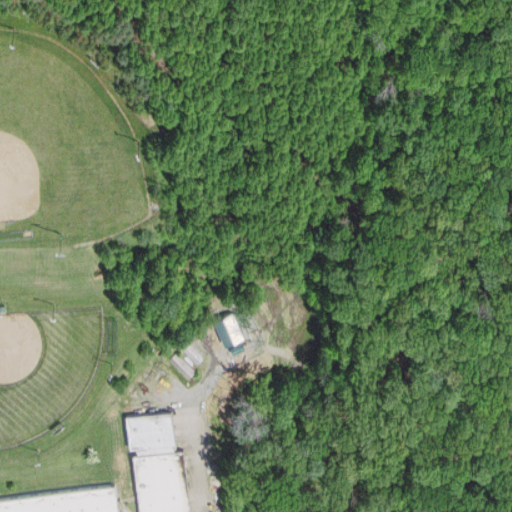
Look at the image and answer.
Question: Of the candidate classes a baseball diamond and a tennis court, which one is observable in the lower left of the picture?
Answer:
baseball diamond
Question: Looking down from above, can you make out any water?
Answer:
No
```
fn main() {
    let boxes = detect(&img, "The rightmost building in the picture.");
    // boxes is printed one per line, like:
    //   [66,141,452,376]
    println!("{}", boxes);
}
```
[216,312,244,355]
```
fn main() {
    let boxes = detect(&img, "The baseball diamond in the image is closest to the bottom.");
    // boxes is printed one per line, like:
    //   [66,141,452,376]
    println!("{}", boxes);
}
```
[0,307,104,449]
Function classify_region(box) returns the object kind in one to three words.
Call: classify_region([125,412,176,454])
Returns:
building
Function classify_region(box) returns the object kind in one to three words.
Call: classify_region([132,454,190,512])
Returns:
building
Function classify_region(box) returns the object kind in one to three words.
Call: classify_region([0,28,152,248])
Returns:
baseball field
